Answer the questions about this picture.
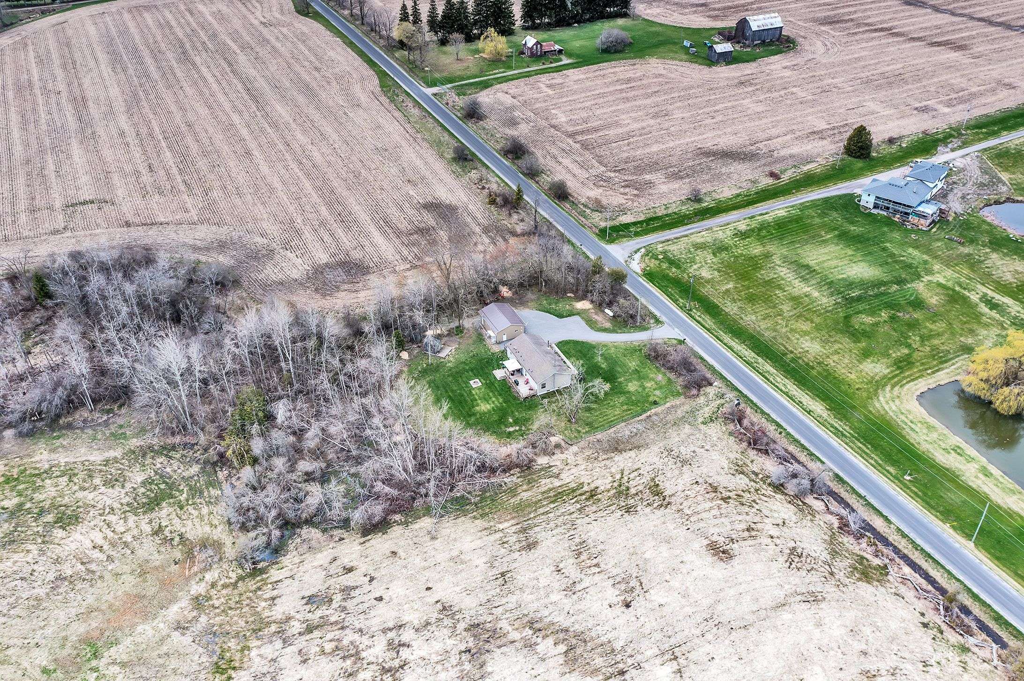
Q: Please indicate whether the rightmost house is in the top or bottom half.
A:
top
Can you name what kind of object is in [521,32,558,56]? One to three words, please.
house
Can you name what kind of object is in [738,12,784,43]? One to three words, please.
barn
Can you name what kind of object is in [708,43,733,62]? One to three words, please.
shed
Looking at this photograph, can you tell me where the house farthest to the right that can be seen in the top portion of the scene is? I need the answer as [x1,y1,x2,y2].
[861,161,950,223]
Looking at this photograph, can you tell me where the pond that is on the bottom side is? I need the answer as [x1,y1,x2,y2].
[917,374,1024,491]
